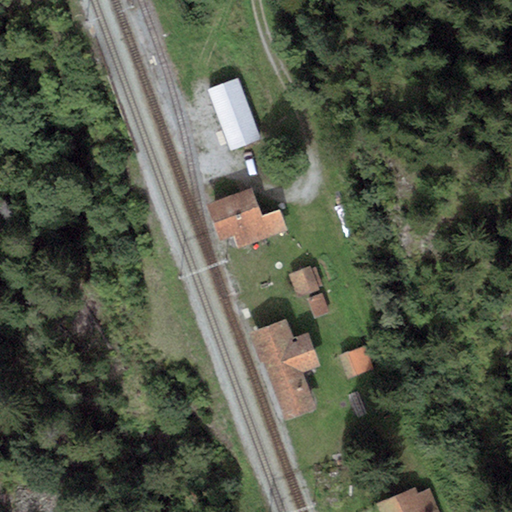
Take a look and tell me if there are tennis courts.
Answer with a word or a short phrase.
No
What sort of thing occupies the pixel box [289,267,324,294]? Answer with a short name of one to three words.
barn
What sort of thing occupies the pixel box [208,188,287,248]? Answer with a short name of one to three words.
house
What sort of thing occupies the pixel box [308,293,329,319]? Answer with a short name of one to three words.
shed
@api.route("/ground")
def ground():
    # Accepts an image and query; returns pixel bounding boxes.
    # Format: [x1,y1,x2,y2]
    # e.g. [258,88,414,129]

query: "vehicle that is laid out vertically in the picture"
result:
[245,149,258,176]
